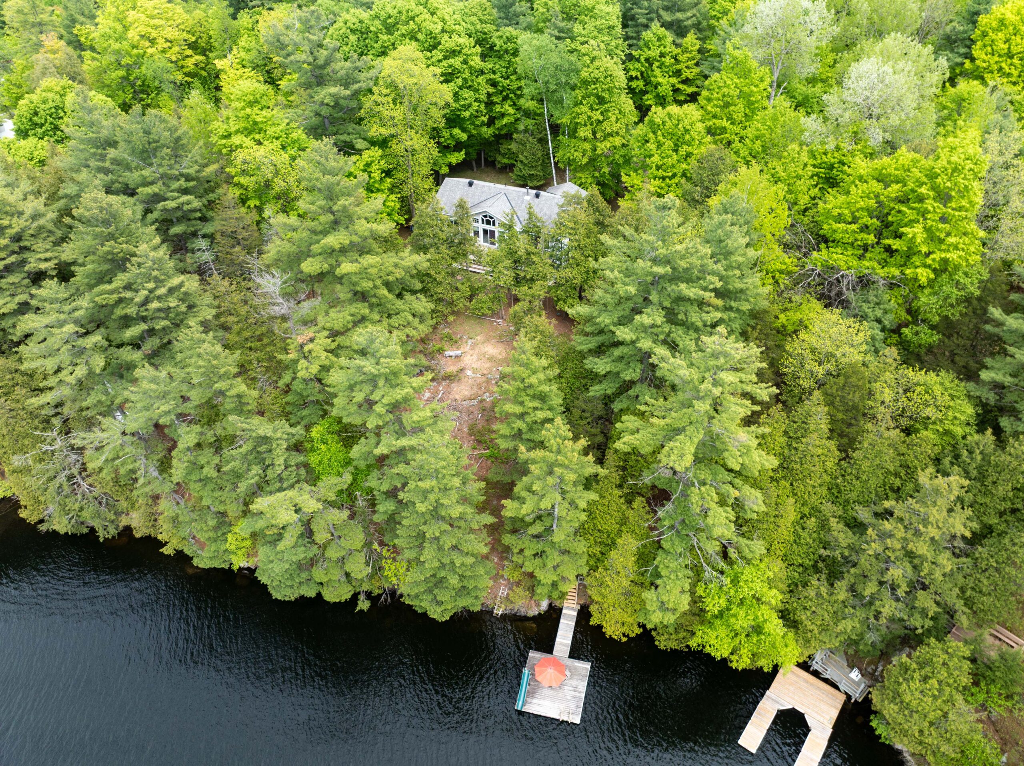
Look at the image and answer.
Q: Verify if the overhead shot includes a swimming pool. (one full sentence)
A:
No, there is no swimming pool in the image.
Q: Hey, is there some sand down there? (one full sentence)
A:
No, sand can't be seen anywhere here.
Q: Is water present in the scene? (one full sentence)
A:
Yes, water shows up in the scene.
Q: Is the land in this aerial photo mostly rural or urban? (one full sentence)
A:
From above, the setting appears rural.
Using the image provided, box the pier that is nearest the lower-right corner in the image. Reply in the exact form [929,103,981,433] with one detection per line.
[737,659,845,766]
